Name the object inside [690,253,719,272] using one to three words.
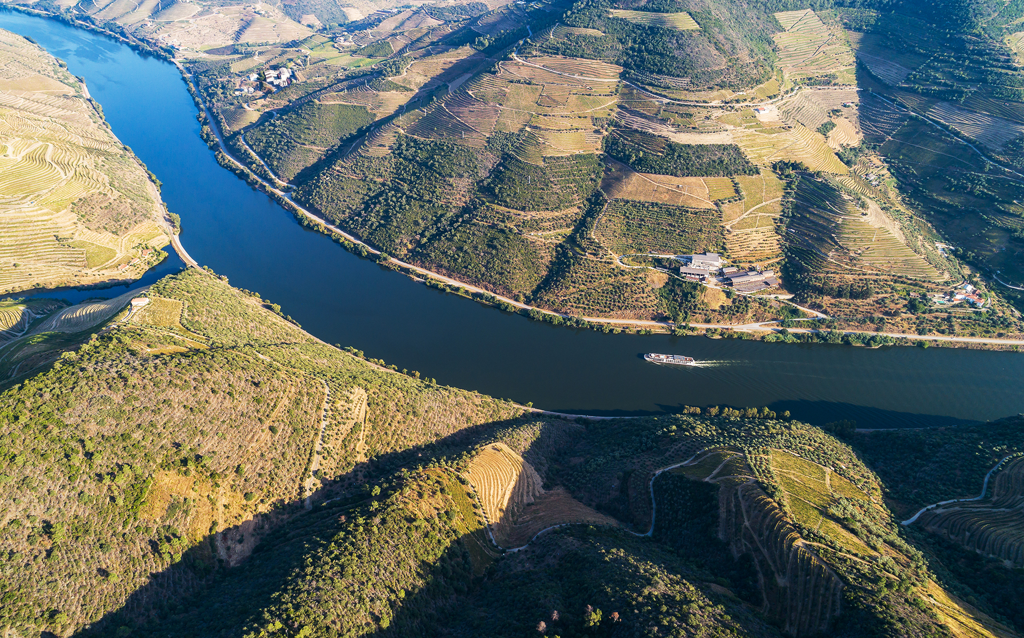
building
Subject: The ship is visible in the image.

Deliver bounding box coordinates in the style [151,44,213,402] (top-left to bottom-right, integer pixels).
[645,353,695,367]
